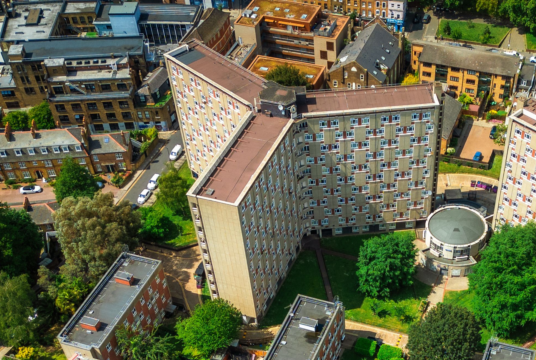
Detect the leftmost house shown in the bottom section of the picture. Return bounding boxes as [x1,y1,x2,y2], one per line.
[14,196,63,242]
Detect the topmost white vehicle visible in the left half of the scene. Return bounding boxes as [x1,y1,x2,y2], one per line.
[168,142,180,160]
